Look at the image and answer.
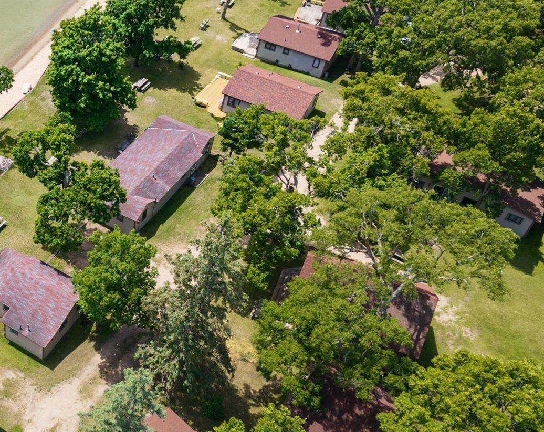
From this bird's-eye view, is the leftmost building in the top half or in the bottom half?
bottom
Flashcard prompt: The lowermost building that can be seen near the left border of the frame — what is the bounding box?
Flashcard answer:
[0,246,95,357]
